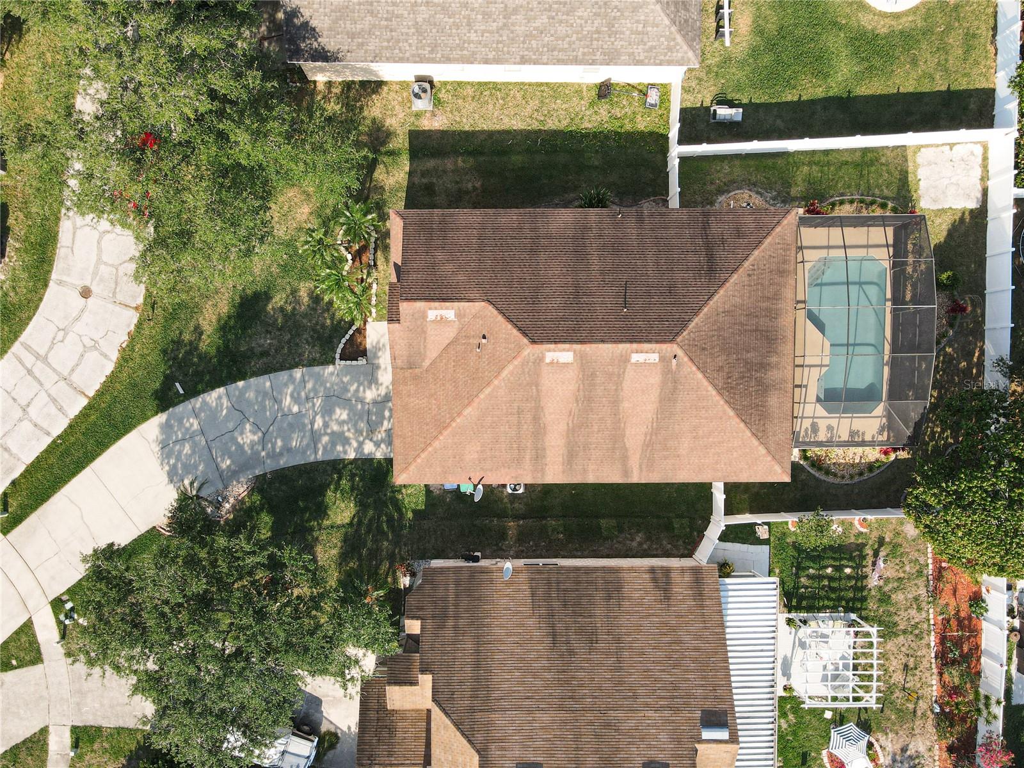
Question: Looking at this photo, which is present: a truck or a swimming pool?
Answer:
swimming pool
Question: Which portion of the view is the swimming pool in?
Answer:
right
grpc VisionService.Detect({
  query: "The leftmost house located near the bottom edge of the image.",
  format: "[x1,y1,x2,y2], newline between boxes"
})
[357,559,740,768]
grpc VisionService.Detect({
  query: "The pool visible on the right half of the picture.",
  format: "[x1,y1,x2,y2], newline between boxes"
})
[806,254,889,416]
